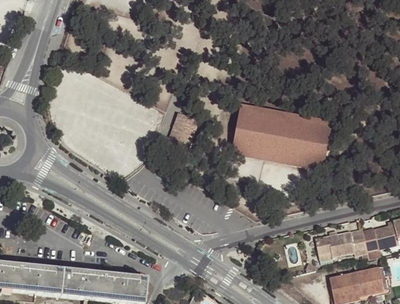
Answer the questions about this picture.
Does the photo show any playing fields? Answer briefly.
Yes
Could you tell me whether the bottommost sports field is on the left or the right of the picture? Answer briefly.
left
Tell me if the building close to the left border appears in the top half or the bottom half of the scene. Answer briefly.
bottom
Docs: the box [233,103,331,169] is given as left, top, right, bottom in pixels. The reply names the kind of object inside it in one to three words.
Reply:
building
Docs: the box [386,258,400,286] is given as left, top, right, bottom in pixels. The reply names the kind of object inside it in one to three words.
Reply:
swimming pool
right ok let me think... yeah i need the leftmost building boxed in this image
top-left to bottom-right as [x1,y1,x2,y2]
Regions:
[0,260,149,304]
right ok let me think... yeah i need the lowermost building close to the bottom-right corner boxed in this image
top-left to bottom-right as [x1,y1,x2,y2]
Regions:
[330,266,392,304]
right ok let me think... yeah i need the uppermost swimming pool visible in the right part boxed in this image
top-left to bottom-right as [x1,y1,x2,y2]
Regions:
[286,242,302,268]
